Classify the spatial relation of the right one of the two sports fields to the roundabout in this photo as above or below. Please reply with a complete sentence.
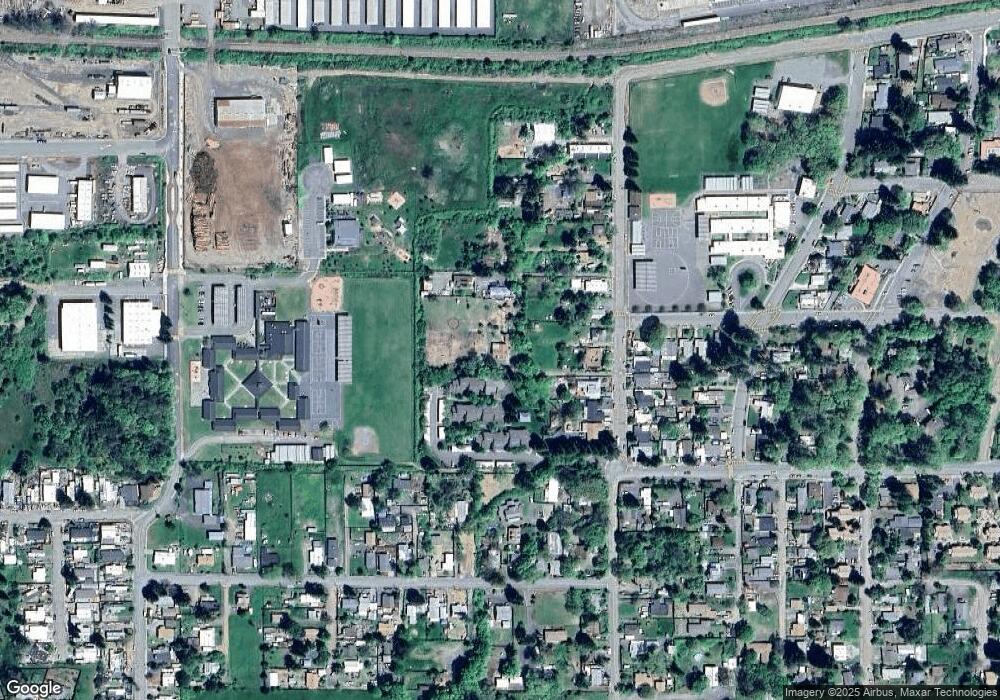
The position of the right one of the two sports fields is above the roundabout.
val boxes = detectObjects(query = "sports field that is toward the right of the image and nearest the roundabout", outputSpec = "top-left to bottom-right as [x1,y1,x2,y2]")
[629,62,775,192]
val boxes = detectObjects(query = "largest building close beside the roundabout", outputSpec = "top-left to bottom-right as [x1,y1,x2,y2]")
[697,196,790,259]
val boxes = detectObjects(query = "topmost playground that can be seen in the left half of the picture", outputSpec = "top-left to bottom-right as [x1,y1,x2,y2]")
[311,277,343,311]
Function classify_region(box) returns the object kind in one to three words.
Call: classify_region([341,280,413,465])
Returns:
sports field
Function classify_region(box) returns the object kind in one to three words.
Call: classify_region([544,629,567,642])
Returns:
house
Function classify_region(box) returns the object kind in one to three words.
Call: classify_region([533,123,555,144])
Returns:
house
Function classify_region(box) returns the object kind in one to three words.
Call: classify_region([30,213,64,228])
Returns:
building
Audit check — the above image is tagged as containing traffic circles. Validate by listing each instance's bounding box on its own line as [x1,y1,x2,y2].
[730,259,772,311]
